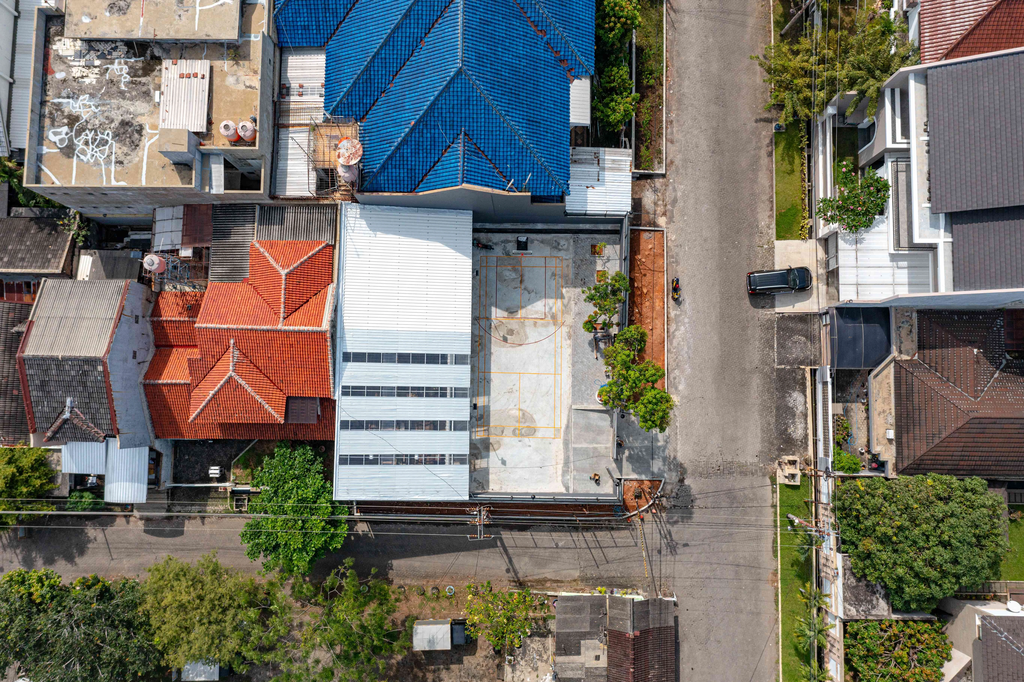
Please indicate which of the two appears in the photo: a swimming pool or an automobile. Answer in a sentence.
I can see an automobile in this picture.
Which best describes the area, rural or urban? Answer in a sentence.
This place is urban.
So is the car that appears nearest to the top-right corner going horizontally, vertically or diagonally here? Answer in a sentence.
Seen from above, the car that appears nearest to the top-right corner lies horizontally.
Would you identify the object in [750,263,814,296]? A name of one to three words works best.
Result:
car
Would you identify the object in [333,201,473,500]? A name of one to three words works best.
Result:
building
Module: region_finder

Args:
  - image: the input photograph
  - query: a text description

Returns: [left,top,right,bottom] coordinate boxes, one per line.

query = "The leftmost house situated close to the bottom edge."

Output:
[555,580,675,682]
